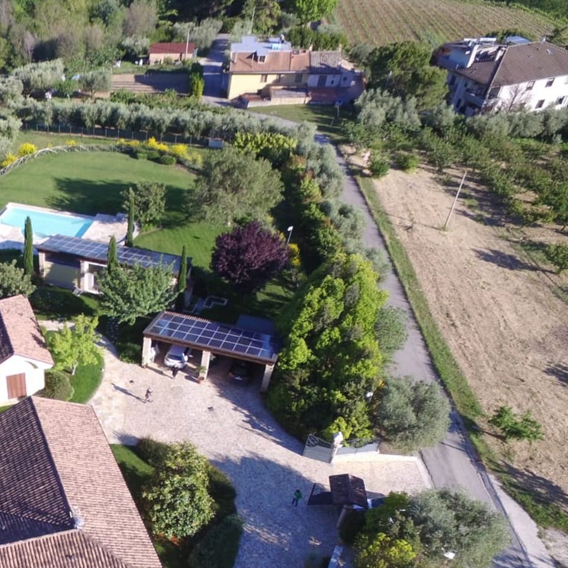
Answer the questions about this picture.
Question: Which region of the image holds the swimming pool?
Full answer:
You can find the swimming pool in the left area of the picture.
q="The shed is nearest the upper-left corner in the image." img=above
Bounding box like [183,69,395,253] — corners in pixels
[148,39,198,69]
